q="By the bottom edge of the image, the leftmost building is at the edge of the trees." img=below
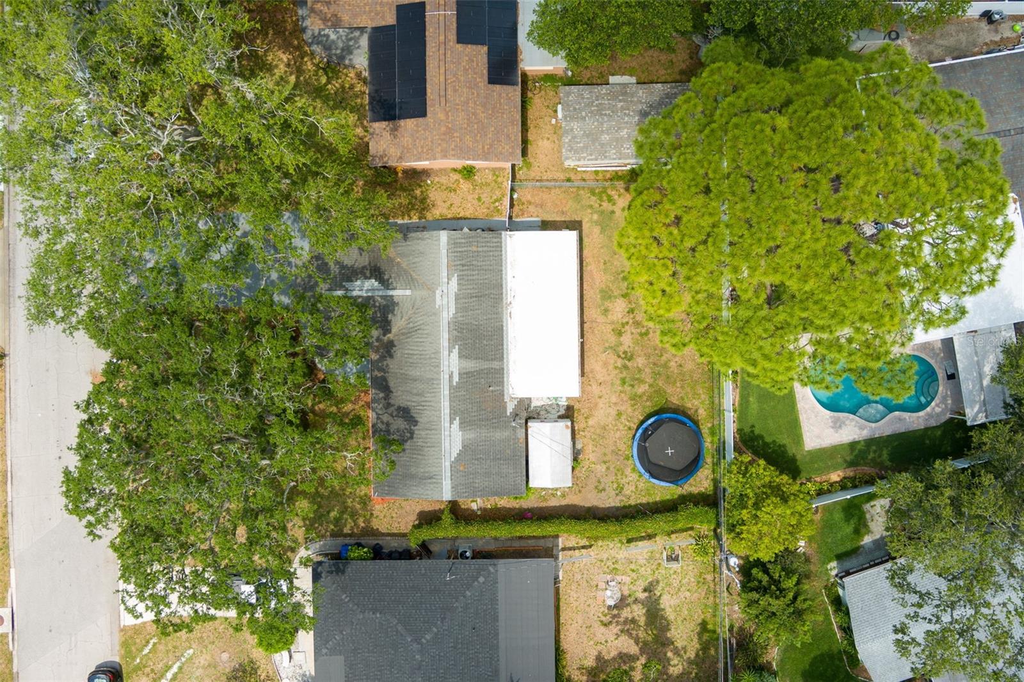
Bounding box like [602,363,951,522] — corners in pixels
[311,556,556,682]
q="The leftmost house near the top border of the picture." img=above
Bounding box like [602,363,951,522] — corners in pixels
[305,0,567,167]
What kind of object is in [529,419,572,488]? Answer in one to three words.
shed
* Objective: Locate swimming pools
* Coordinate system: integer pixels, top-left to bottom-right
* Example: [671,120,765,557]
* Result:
[792,339,963,450]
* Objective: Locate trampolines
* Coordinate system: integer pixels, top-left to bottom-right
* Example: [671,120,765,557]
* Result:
[628,410,710,490]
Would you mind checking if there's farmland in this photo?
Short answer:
No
